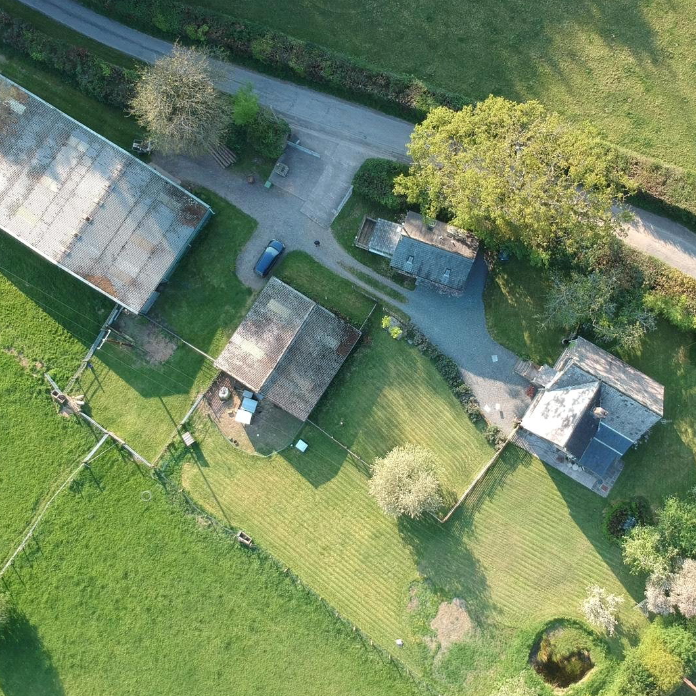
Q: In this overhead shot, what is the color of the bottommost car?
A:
blue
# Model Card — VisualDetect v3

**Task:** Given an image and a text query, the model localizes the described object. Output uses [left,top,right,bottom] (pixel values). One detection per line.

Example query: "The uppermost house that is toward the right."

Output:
[365,210,480,292]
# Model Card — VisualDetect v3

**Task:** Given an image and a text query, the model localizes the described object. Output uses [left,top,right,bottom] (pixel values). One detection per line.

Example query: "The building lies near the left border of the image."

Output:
[0,73,221,315]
